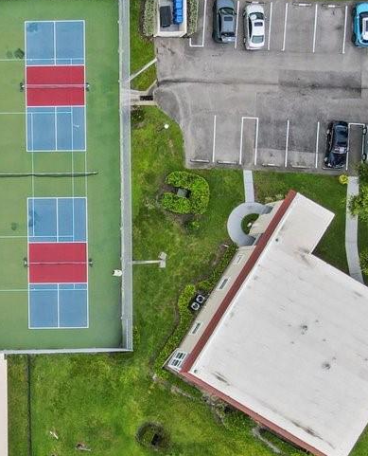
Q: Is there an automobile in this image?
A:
Yes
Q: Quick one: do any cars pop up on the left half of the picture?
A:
No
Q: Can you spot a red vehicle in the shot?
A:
No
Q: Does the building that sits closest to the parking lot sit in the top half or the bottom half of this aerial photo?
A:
bottom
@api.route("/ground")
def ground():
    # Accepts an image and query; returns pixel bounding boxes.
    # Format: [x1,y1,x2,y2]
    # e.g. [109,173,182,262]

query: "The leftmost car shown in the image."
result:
[212,0,236,43]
